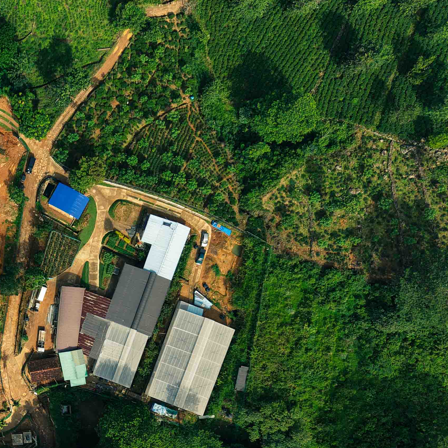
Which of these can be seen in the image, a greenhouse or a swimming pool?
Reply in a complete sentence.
It is a greenhouse that can be seen here.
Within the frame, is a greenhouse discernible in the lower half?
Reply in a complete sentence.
Yes, looking in the lower half, one can make out a greenhouse.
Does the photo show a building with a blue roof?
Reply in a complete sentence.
Yes, looking at the shot, I can spot a building with a blue roof.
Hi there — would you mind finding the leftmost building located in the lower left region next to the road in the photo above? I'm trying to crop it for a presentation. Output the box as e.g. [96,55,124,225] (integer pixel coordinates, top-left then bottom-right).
[28,355,64,386]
